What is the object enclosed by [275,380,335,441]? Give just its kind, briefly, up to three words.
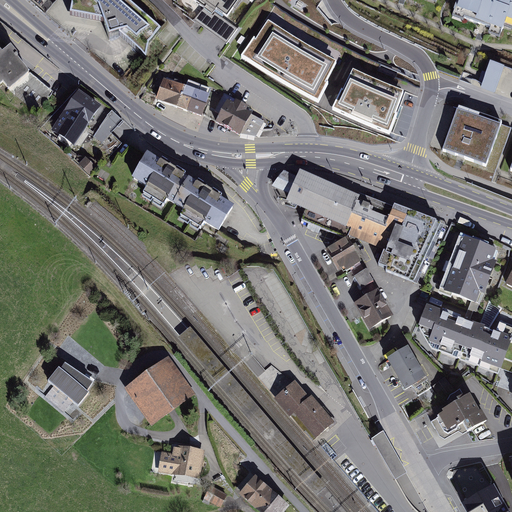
train station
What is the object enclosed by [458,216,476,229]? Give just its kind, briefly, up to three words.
vehicle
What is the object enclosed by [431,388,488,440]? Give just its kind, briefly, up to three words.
house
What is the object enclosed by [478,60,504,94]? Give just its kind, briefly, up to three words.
building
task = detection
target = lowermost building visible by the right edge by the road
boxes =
[446,458,510,512]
